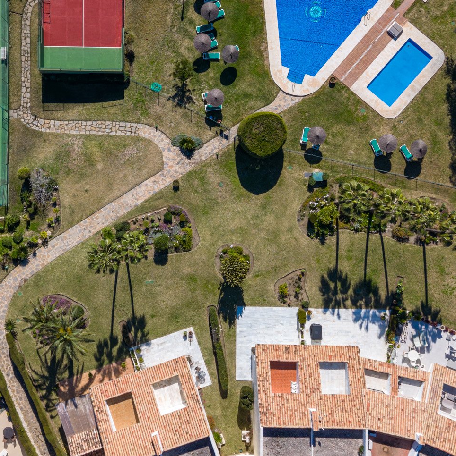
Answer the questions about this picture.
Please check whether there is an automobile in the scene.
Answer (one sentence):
No, I can see no automobile in this picture.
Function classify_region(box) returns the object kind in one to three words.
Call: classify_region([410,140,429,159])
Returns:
umbrella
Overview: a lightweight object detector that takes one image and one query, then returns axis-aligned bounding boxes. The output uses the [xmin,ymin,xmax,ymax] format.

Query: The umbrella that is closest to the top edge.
[200,2,218,21]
